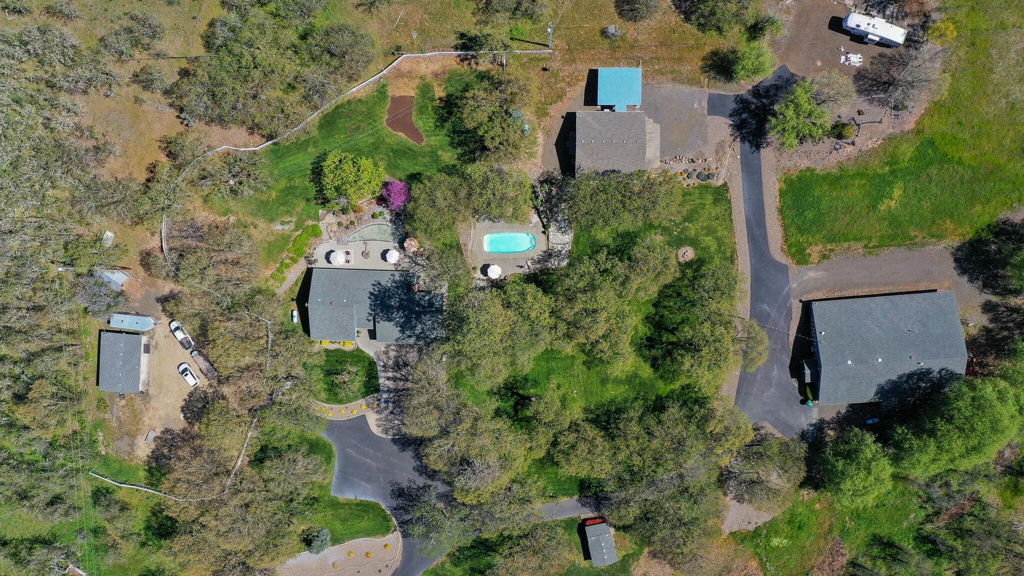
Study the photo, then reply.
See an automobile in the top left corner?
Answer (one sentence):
No, no automobile appears in the top left corner.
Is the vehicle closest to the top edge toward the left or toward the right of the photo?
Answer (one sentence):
The vehicle closest to the top edge sits on the right side.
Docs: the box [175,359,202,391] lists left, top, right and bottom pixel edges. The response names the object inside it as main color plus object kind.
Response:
white car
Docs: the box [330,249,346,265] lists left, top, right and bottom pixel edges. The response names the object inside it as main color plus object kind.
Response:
white umbrella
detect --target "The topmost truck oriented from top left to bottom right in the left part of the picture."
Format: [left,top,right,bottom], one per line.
[164,317,197,354]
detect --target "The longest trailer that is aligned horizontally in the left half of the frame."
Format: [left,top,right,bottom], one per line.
[109,312,162,330]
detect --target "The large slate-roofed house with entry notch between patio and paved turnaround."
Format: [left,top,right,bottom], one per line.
[302,268,446,345]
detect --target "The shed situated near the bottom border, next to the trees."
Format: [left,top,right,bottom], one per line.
[584,520,616,567]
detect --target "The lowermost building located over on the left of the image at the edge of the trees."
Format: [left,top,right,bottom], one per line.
[99,331,147,391]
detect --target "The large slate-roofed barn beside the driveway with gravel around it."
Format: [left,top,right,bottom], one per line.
[800,291,970,405]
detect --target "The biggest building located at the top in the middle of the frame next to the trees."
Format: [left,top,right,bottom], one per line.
[575,111,649,178]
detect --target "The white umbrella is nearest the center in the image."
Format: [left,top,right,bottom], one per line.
[487,264,501,278]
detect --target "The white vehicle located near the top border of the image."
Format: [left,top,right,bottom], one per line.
[840,13,908,48]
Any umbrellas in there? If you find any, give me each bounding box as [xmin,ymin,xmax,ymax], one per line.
[330,249,346,265]
[487,264,501,278]
[386,250,399,263]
